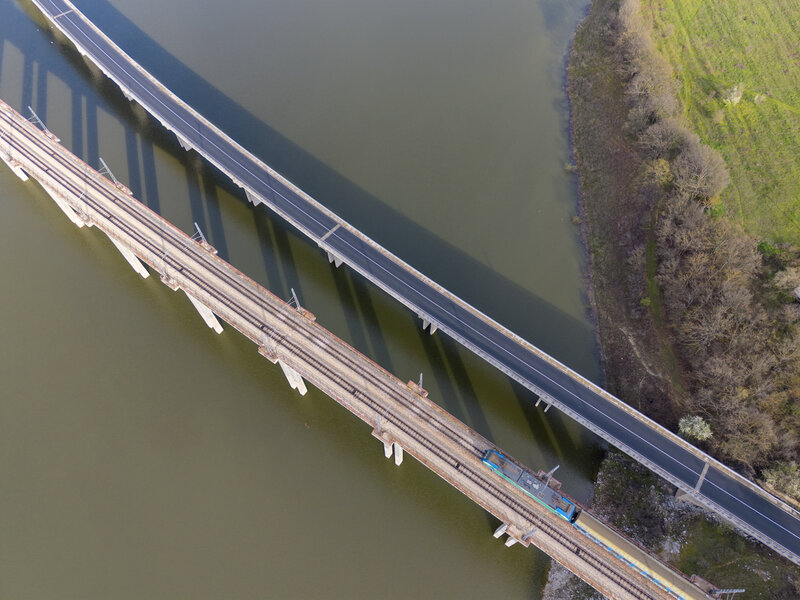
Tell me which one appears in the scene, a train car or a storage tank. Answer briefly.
train car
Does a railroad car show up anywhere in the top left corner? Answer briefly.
No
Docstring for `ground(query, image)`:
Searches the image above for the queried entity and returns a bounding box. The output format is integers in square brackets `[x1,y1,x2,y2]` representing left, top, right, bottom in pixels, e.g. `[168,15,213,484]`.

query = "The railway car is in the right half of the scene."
[480,449,578,525]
